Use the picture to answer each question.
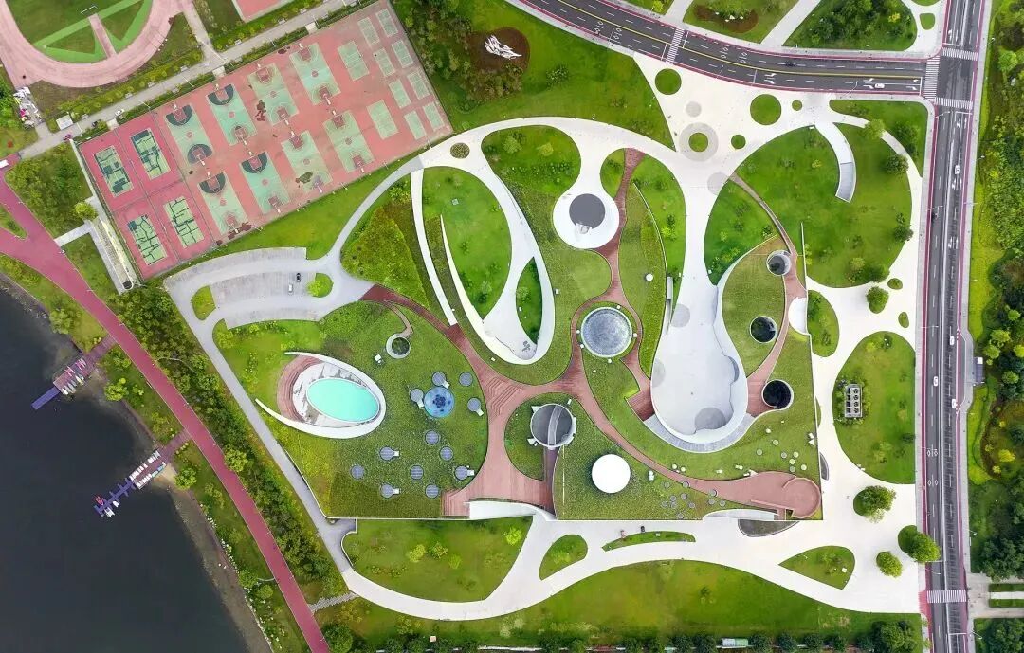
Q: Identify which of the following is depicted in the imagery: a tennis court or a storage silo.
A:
tennis court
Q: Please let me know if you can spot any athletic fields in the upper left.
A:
Yes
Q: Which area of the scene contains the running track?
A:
top left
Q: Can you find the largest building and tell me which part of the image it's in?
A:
center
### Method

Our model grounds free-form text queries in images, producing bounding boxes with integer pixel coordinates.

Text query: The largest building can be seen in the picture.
[213,125,822,520]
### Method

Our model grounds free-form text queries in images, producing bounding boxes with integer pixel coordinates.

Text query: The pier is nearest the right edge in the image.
[94,431,189,516]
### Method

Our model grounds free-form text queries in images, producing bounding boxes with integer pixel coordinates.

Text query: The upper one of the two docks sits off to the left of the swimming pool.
[32,335,116,409]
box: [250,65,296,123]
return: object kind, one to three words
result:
basketball court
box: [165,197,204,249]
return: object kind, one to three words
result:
tennis court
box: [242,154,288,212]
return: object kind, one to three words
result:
basketball court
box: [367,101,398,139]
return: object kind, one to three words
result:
sports court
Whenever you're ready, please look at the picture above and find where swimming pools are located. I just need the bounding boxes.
[308,379,378,421]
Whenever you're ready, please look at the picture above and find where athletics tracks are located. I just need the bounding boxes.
[0,0,183,88]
